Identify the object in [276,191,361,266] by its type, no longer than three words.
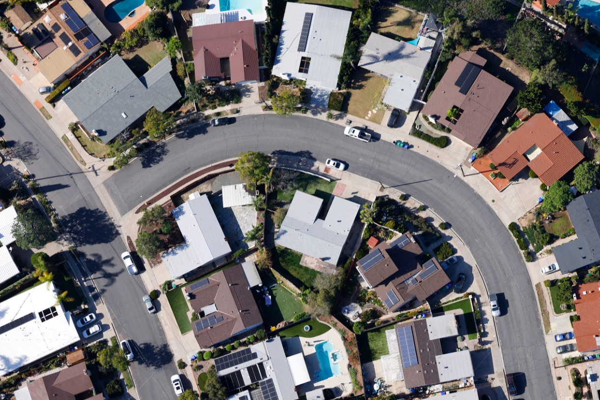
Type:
house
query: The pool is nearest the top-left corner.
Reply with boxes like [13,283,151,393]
[103,0,146,23]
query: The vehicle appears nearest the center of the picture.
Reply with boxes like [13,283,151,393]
[325,158,345,171]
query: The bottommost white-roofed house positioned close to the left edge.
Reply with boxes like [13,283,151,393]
[0,281,83,376]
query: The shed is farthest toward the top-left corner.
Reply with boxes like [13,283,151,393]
[4,4,34,31]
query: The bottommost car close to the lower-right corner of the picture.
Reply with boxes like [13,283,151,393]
[505,373,517,396]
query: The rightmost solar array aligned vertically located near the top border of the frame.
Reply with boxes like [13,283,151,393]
[298,12,313,51]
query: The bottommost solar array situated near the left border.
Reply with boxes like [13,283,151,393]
[0,314,35,334]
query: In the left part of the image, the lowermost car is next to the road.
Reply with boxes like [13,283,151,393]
[170,375,185,398]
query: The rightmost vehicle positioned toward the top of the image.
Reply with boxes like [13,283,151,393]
[386,109,401,129]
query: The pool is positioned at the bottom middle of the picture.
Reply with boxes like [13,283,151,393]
[312,339,344,383]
